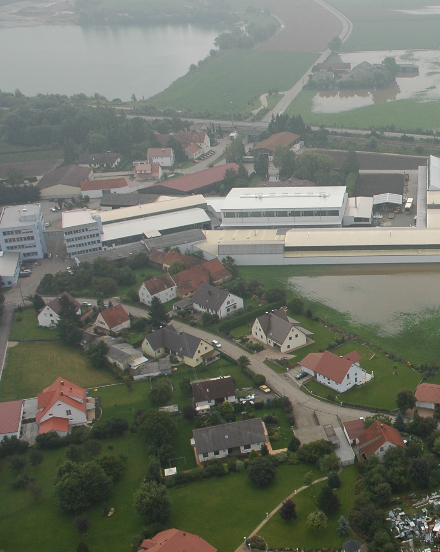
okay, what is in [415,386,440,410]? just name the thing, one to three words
building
